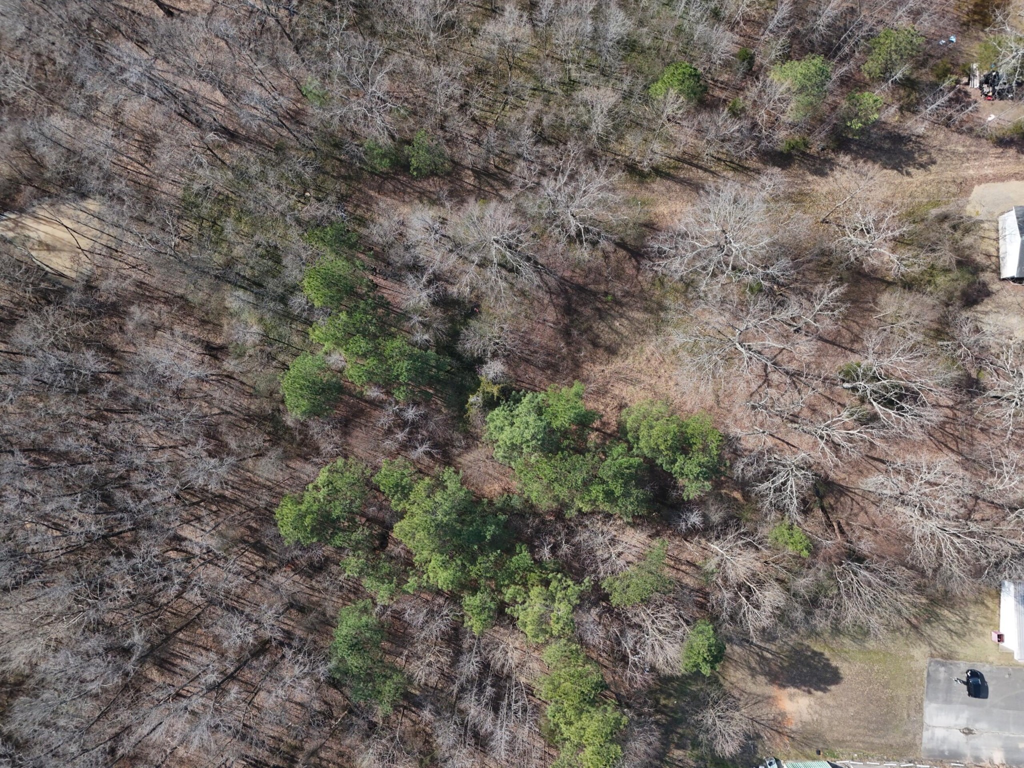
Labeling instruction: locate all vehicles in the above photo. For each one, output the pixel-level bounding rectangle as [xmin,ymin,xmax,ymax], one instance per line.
[966,669,983,700]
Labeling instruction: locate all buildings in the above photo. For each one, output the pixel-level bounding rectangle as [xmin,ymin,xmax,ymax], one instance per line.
[782,761,830,768]
[1000,580,1024,668]
[999,208,1024,278]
